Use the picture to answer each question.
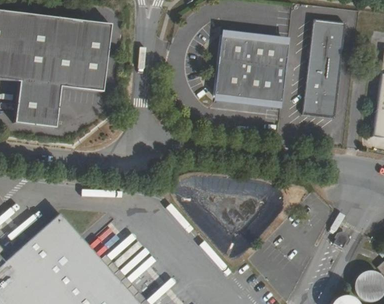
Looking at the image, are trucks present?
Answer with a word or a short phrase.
Yes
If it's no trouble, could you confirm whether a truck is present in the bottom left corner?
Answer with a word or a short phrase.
Yes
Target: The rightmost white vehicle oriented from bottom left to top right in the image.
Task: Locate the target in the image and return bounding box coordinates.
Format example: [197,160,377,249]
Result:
[326,213,346,236]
